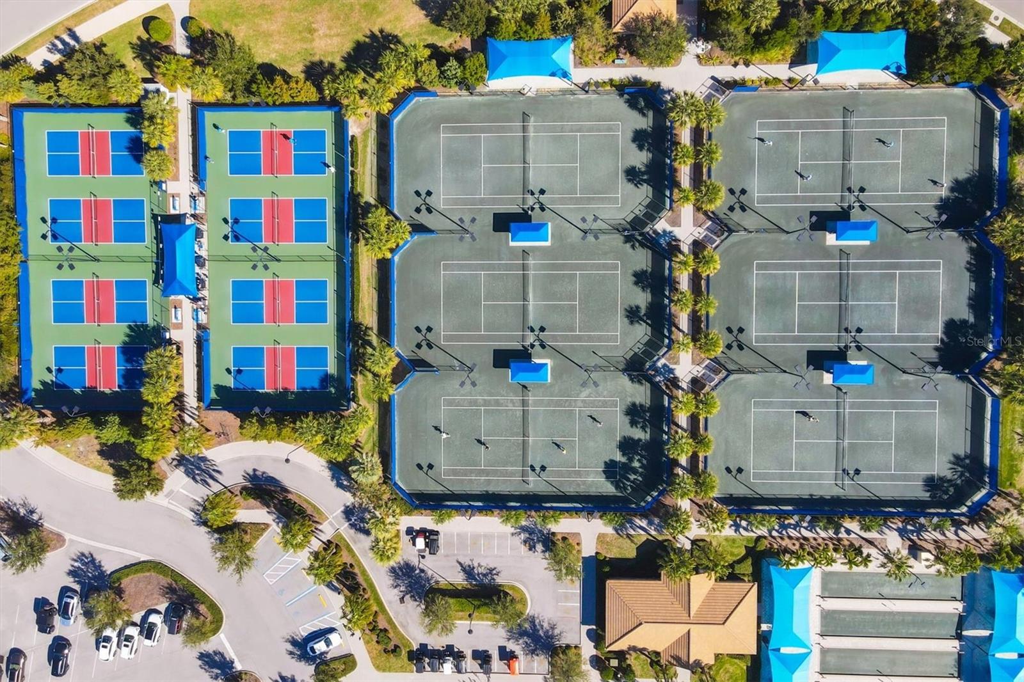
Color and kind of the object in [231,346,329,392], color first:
blue sports court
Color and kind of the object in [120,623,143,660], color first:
white car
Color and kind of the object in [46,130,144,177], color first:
blue sports court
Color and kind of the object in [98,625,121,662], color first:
white car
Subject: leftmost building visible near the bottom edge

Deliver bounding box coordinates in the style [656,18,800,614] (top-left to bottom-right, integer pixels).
[605,567,759,671]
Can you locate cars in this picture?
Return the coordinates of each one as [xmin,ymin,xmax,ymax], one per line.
[142,609,165,646]
[307,629,343,655]
[58,590,81,626]
[0,533,14,567]
[164,599,186,635]
[34,601,59,634]
[98,625,121,662]
[120,623,143,660]
[50,638,74,675]
[4,650,28,682]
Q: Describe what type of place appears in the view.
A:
sports ground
